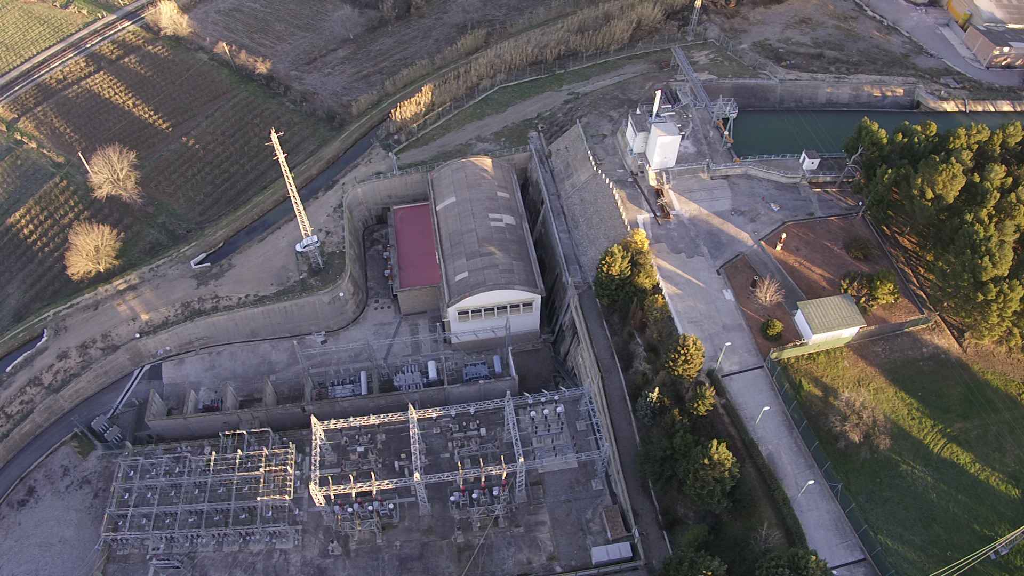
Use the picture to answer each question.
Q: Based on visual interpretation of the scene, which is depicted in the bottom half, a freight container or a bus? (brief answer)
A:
freight container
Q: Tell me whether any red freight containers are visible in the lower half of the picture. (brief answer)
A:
No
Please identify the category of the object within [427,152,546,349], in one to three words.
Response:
building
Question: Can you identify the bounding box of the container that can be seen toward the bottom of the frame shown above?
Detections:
[588,539,633,568]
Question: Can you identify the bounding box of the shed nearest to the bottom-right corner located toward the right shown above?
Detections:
[794,293,867,342]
